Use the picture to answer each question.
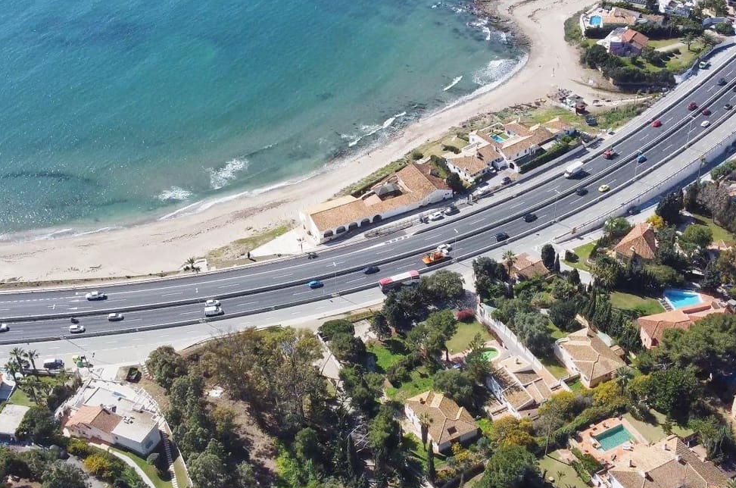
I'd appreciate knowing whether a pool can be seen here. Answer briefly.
Yes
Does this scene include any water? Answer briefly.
Yes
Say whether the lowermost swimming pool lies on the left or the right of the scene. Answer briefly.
right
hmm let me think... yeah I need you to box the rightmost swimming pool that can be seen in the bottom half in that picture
[660,288,704,313]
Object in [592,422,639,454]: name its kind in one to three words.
swimming pool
